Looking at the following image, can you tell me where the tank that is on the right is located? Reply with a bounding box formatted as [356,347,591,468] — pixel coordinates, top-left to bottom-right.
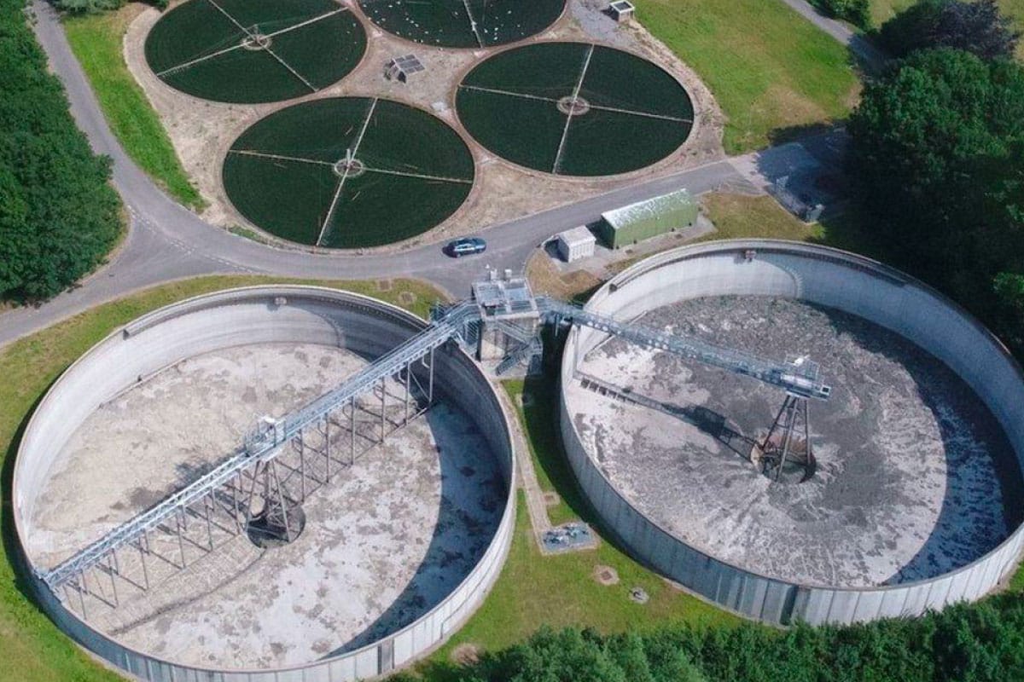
[552,239,1024,636]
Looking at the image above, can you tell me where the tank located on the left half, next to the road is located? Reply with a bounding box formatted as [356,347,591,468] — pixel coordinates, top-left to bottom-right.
[11,284,519,682]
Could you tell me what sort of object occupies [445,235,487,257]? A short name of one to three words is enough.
car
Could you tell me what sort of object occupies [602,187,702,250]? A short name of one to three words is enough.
building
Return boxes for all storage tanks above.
[552,239,1024,636]
[11,284,519,682]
